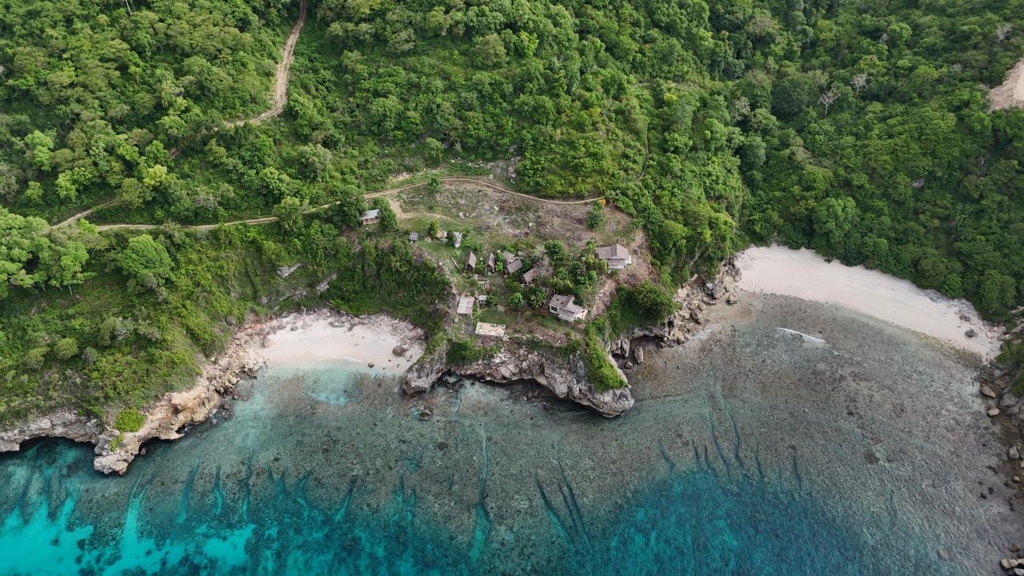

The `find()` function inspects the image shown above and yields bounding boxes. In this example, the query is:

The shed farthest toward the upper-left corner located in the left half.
[358,208,381,230]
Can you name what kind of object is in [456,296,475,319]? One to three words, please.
shed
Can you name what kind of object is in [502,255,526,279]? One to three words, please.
shed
